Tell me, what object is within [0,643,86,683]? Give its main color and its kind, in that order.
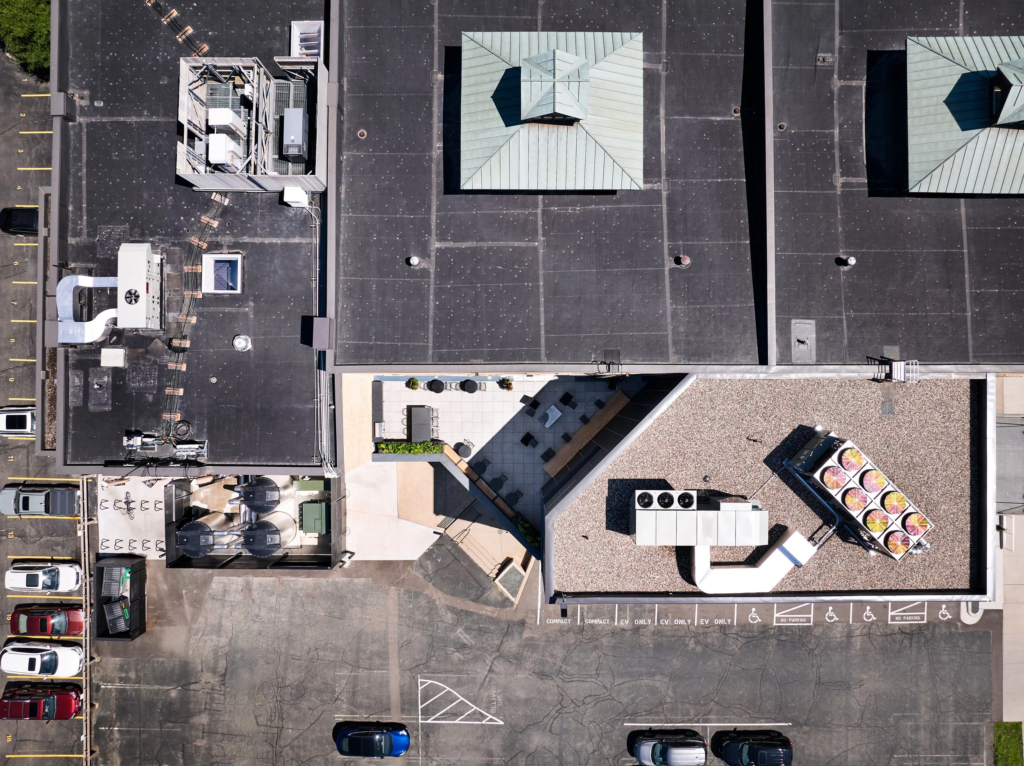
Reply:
white car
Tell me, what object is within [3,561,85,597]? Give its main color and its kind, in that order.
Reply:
white car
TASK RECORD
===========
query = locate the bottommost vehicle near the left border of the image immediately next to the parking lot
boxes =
[0,688,83,729]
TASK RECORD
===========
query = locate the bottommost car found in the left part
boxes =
[337,720,413,762]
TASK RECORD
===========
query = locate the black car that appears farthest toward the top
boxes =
[0,203,38,238]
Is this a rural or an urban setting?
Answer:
urban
